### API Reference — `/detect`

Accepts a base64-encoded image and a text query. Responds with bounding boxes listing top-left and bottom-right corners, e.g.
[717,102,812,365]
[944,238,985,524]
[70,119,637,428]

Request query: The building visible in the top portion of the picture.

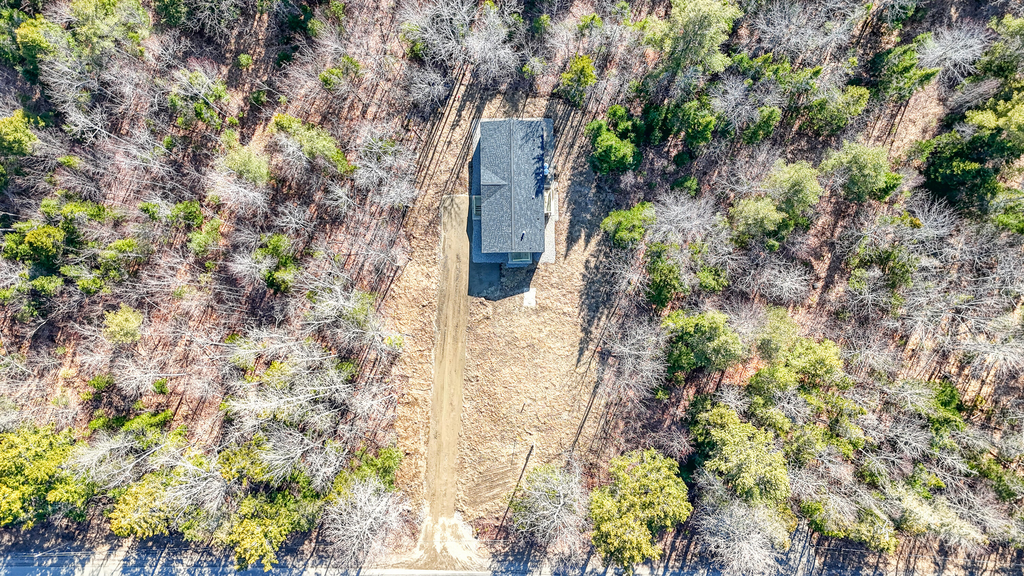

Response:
[480,120,545,253]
